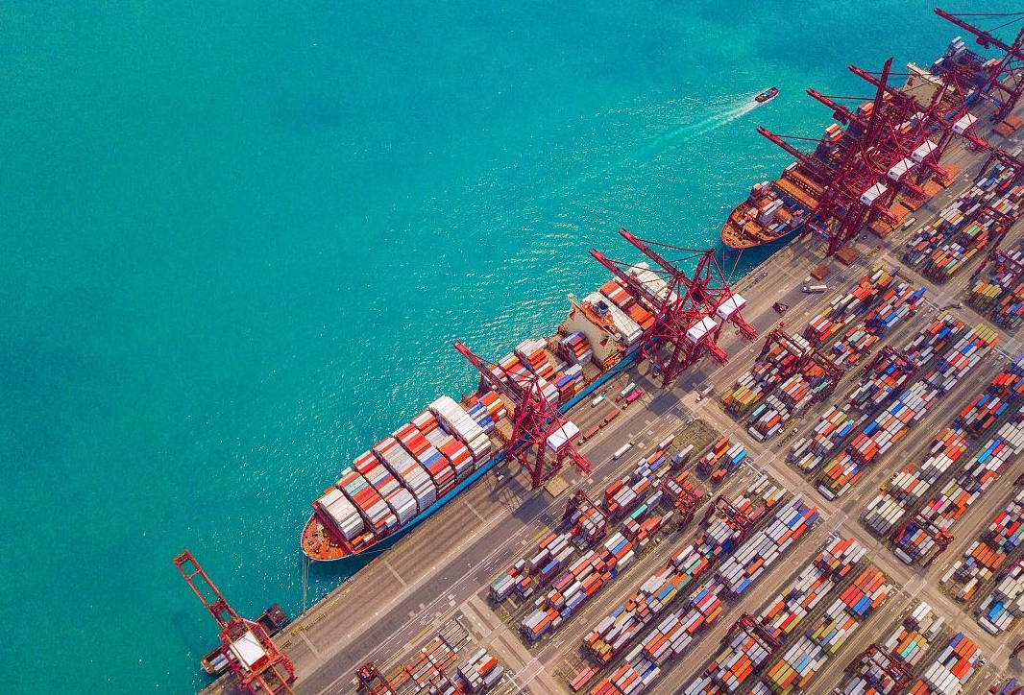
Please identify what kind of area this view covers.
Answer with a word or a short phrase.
port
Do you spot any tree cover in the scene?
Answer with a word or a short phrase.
No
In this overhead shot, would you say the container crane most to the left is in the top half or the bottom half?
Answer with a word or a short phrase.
bottom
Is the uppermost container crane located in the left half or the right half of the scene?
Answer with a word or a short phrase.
right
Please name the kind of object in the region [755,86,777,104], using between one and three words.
boat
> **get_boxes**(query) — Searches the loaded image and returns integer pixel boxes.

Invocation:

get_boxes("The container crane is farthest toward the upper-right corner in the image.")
[937,13,1024,113]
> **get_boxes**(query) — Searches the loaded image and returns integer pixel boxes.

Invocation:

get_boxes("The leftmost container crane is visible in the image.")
[166,551,299,695]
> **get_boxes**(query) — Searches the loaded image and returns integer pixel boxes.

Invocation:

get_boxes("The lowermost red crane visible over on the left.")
[358,664,399,695]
